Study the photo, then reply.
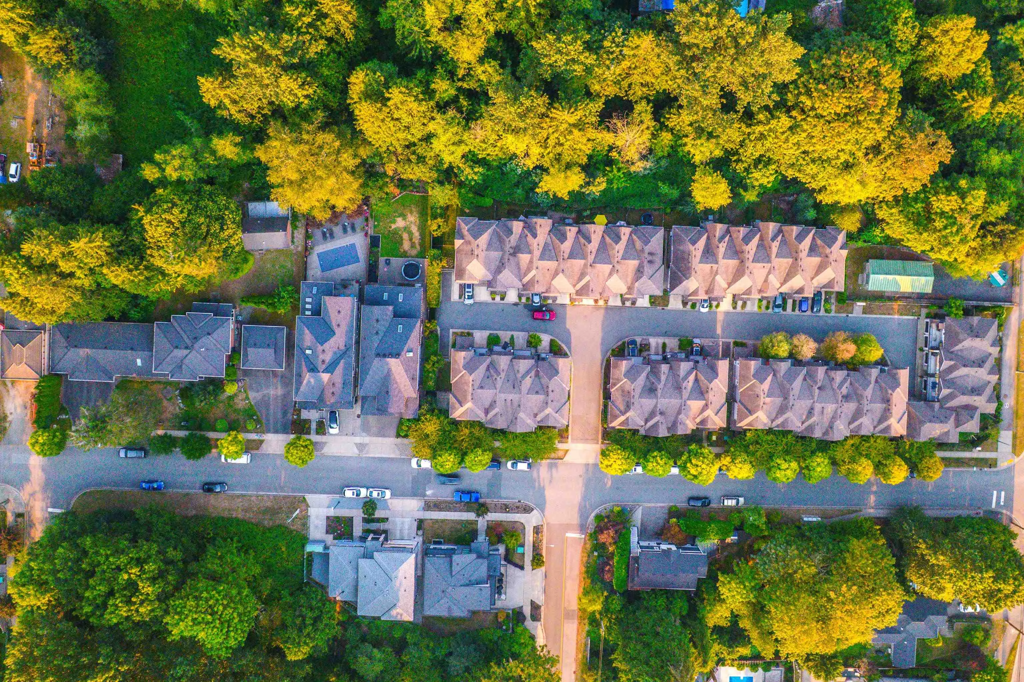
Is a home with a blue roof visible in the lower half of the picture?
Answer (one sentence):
Yes, you'll find a home with a blue roof in the lower half of the picture.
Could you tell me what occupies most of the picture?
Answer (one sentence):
Most of the picture is covered by trees.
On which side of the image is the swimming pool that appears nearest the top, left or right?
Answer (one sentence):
It is on the left.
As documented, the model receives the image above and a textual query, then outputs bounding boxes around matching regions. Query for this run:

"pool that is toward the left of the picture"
[314,240,362,275]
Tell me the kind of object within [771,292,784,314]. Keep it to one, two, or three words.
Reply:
vehicle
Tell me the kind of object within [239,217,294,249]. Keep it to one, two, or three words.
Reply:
shed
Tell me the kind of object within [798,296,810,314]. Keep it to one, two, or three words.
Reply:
vehicle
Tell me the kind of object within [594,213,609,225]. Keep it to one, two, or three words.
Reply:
umbrella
